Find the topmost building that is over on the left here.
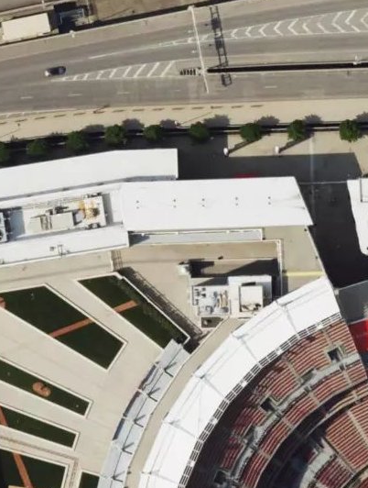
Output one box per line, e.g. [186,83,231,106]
[0,148,187,199]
